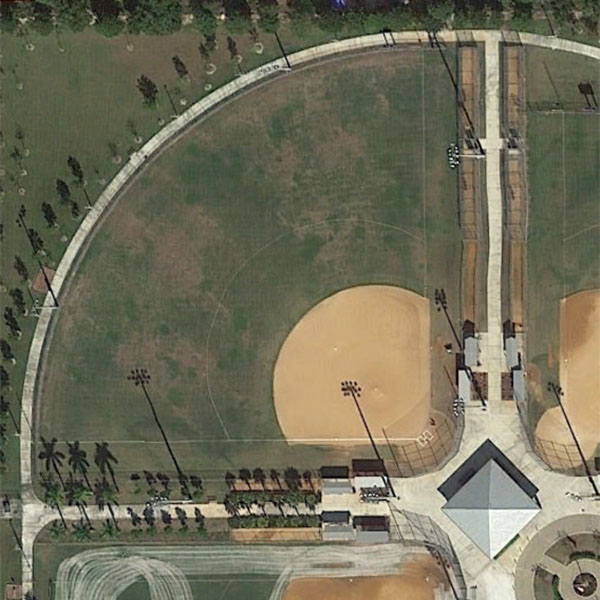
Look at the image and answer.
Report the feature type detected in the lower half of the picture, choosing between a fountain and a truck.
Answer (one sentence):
The feature located in the lower half of the picture is a fountain.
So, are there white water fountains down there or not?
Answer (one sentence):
No, the scene contains no white water fountain.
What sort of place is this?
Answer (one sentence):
What you see here is a sports ground.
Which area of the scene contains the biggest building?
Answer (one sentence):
The biggest building sits in the bottom right section of the image.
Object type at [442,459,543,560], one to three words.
building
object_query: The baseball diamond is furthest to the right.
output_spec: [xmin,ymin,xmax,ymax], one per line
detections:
[526,112,600,473]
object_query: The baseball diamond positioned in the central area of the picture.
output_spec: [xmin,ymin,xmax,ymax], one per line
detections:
[36,48,464,482]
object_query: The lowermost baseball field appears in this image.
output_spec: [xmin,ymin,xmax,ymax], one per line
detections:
[36,544,463,600]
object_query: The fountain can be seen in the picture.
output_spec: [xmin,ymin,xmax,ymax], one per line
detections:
[572,572,596,597]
